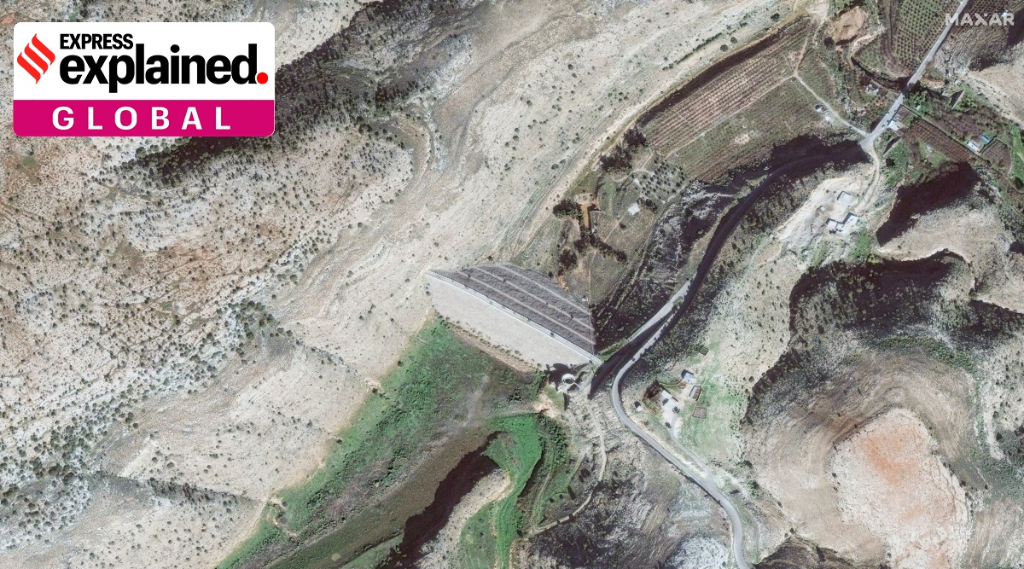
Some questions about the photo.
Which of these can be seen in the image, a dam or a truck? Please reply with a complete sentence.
It is a dam that can be seen here.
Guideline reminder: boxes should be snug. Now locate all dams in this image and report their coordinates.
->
[425,263,601,367]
